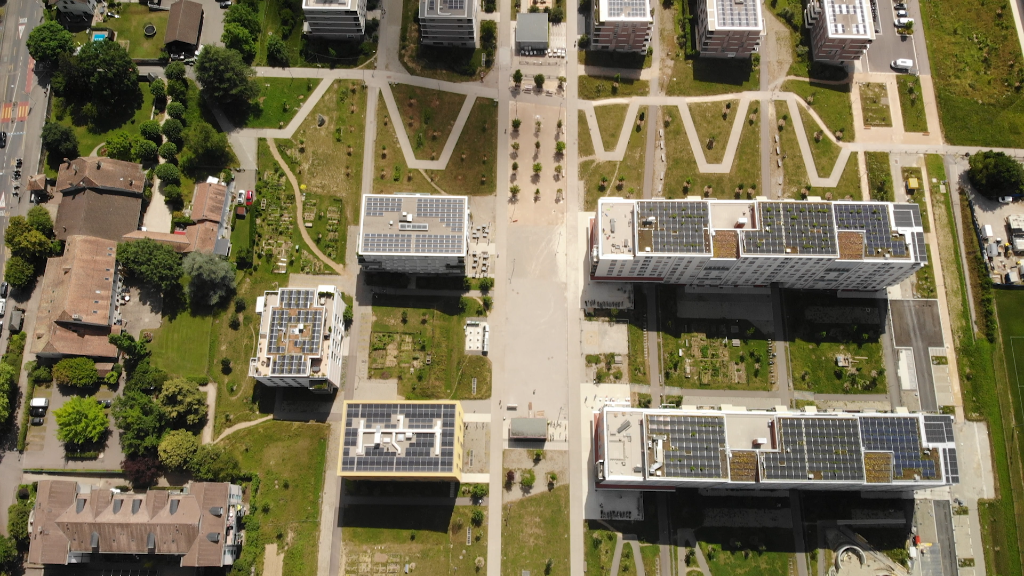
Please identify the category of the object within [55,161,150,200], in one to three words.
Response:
house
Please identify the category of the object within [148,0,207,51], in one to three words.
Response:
barn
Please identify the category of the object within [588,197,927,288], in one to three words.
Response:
building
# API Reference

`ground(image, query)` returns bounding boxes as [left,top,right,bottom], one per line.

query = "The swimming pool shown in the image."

[91,29,117,43]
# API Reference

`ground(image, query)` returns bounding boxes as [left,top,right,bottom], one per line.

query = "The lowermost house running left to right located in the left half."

[28,479,244,567]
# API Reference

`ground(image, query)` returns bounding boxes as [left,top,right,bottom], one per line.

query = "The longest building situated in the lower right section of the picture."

[590,401,959,492]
